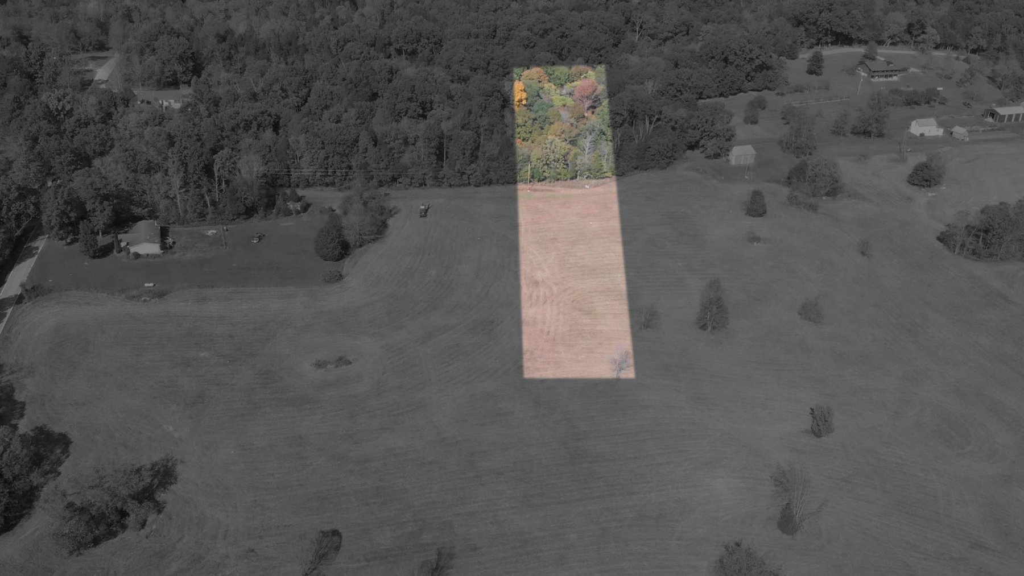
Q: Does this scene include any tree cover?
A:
Yes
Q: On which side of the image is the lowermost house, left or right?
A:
left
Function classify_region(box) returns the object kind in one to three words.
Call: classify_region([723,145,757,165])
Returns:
building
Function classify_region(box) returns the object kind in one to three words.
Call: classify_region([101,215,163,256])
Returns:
house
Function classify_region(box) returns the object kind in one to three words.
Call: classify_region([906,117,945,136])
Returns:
house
